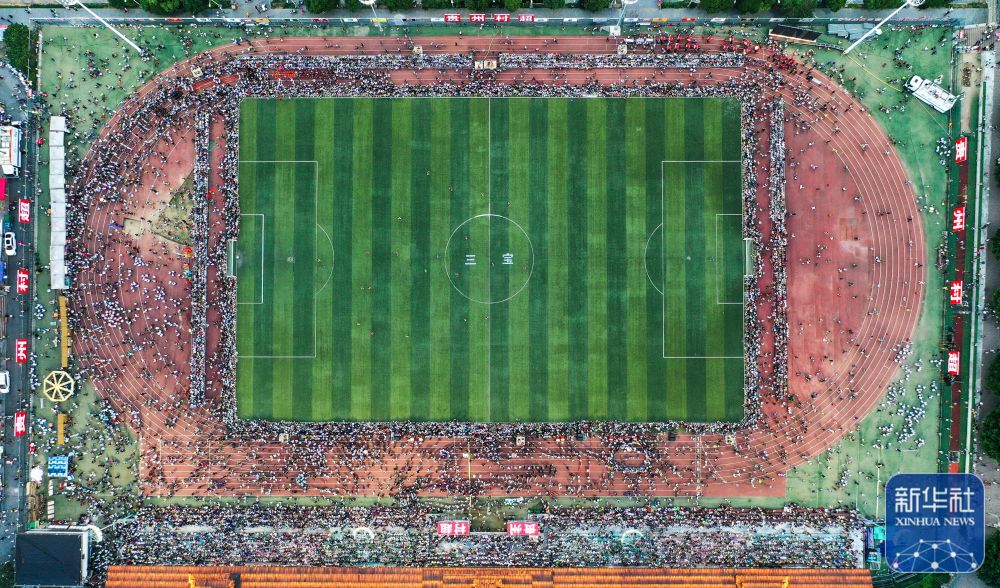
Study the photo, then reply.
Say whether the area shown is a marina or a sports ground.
sports ground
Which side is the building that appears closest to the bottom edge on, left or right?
left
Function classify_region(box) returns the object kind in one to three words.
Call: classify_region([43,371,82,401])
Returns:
gazebo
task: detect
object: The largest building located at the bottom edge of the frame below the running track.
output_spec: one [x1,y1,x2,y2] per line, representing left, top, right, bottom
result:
[14,517,98,585]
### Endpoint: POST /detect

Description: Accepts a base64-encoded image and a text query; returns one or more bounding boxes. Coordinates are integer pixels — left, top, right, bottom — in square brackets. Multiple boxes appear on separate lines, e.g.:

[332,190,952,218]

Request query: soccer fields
[235,95,746,423]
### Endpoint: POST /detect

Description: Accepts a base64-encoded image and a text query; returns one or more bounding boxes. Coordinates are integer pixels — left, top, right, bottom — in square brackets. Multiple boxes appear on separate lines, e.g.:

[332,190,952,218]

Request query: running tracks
[62,35,924,497]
